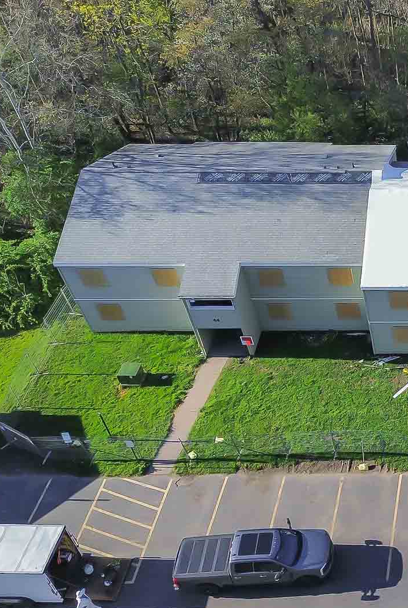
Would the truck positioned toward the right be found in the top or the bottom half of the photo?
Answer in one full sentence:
Seen from above, the truck positioned toward the right lies in the bottom half of the view.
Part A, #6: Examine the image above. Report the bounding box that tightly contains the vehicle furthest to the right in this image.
[172,524,342,590]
